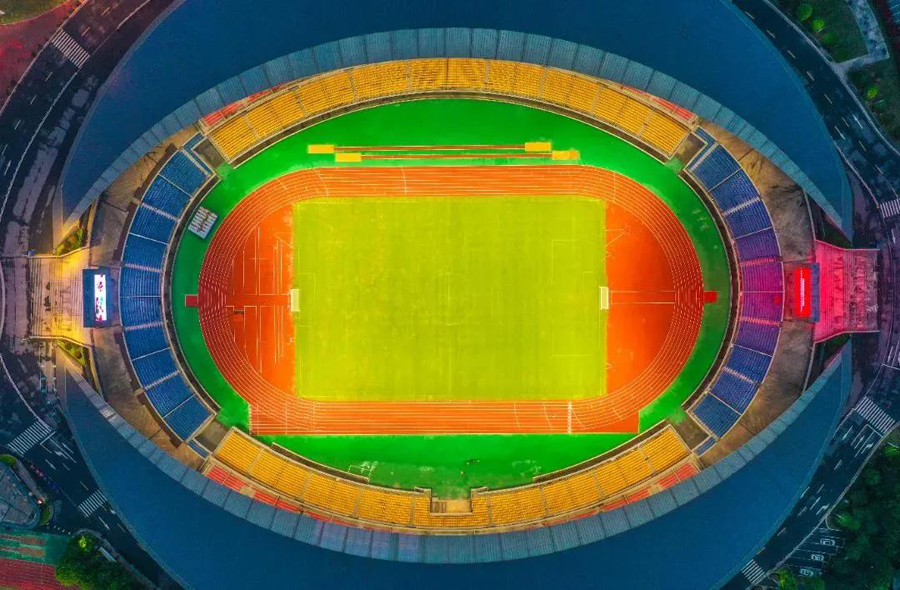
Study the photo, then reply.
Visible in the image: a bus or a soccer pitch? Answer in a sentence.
It is a soccer pitch that can be seen here.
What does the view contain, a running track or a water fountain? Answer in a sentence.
The one in the frame is a running track.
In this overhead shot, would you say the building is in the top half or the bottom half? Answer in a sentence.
The bottom half of the photo is where the building is.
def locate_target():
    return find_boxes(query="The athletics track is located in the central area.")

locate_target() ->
[186,166,716,434]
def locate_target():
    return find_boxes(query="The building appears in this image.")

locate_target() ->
[0,455,47,529]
